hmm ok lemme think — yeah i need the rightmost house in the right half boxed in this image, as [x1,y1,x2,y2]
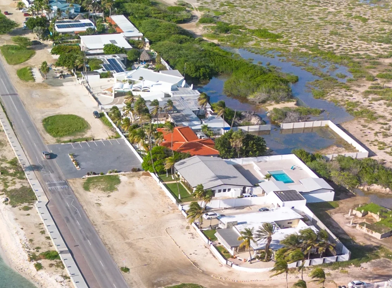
[295,177,335,203]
